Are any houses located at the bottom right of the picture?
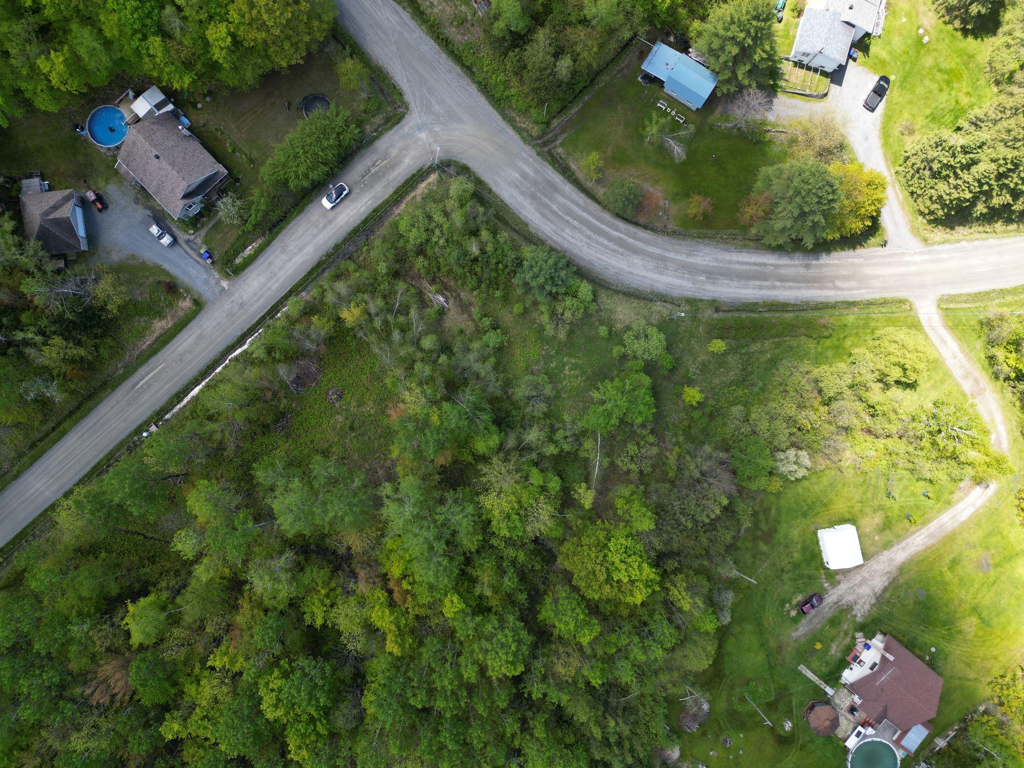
Yes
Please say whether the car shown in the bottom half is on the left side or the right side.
right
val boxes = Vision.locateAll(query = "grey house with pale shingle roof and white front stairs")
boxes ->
[785,0,881,72]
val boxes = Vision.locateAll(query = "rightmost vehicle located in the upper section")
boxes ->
[860,73,891,116]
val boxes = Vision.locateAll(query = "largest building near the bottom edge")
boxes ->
[839,630,943,731]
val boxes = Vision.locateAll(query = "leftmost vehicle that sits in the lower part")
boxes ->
[796,591,824,613]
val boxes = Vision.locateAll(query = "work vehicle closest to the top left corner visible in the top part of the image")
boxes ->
[82,189,107,211]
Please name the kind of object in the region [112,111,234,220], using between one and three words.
house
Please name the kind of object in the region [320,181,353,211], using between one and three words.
car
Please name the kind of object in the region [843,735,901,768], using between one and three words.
swimming pool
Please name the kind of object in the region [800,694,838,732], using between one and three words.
gazebo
